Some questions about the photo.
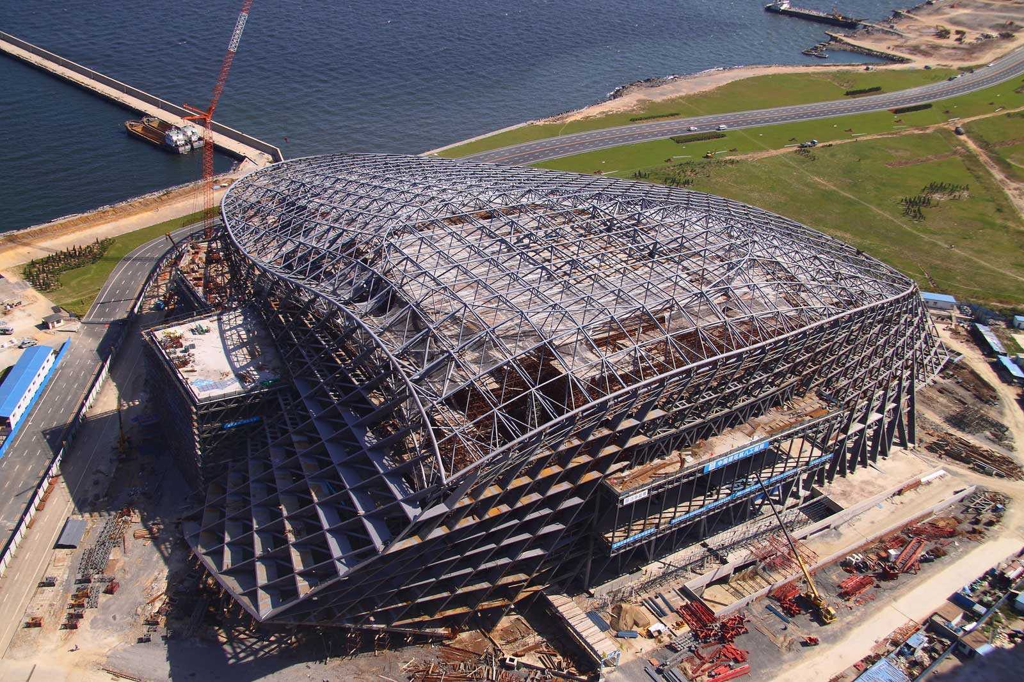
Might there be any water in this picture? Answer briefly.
Yes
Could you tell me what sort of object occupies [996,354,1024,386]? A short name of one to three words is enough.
shed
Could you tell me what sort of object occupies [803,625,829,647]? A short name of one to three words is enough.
work vehicle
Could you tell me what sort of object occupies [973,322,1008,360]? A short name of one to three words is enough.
shed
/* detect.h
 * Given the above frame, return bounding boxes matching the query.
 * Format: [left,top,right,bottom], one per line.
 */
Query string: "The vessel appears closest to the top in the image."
[764,0,875,26]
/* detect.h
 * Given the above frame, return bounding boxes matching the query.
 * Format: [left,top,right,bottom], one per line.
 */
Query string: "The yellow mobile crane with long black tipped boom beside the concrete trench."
[749,474,844,623]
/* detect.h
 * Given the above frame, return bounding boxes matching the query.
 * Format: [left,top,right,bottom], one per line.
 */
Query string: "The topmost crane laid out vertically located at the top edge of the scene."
[168,0,255,265]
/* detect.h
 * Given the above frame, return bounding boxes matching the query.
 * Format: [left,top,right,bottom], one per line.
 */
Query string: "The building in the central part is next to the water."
[134,152,967,636]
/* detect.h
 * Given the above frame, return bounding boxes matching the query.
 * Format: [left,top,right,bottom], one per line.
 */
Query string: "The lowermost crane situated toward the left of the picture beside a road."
[106,402,136,464]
